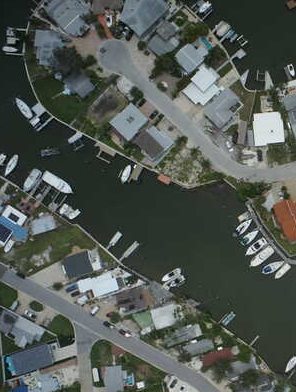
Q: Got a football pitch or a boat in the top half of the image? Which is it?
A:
boat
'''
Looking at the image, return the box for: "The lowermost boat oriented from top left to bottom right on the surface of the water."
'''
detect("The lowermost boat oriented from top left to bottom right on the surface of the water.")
[40,169,73,193]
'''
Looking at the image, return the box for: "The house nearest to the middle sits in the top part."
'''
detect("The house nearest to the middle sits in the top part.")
[135,125,176,164]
